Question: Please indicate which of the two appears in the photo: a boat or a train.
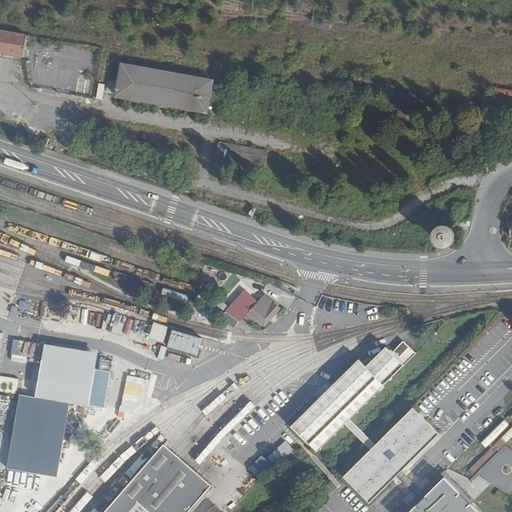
train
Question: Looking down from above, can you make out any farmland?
No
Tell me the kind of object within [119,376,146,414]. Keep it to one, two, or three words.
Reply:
building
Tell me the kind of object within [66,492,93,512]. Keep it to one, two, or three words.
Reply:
train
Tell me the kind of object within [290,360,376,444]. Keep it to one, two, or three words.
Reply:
building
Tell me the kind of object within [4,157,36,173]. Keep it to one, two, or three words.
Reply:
vehicle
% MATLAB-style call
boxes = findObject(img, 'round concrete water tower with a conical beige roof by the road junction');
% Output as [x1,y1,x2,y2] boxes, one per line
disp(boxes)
[430,225,455,250]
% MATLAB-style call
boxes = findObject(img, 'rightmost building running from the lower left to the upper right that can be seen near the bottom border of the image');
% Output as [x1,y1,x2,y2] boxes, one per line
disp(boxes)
[342,408,438,504]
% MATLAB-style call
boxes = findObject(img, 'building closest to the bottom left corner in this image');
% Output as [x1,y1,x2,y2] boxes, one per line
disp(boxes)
[5,394,68,478]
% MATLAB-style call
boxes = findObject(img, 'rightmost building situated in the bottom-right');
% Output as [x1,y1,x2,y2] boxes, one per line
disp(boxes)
[410,478,480,512]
